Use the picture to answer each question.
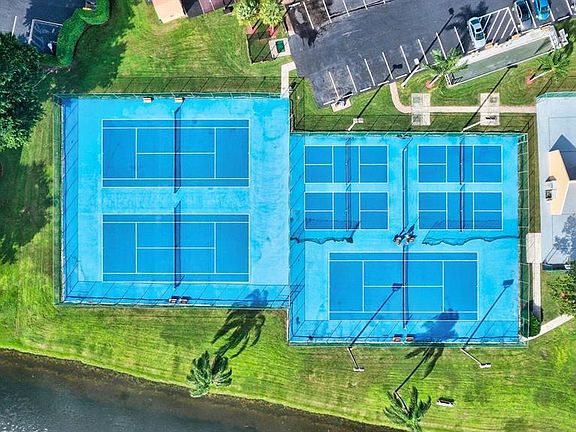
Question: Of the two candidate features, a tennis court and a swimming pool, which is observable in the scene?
tennis court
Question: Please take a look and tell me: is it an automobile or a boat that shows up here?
automobile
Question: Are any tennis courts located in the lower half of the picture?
Yes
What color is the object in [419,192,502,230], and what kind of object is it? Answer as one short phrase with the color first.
blue sports court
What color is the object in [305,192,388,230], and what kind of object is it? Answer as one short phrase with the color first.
blue sports court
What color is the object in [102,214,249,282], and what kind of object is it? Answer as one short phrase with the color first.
blue tennis court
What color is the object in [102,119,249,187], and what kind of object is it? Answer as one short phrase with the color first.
blue tennis court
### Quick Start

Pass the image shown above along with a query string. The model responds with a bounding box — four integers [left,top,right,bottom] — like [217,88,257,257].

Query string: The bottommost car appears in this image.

[467,18,486,51]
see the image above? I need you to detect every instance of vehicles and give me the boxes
[509,0,529,28]
[467,18,486,51]
[530,0,549,22]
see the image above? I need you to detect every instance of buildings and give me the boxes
[151,0,186,22]
[550,147,576,215]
